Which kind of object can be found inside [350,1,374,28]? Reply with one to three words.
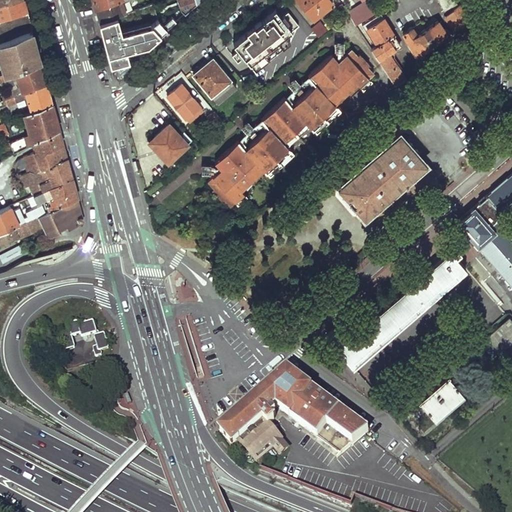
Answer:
shed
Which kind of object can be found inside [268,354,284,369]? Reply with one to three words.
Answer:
vehicle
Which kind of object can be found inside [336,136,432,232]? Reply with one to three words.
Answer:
building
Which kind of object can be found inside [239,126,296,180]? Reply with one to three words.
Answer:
house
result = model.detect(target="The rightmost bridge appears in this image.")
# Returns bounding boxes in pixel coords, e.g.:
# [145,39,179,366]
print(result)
[150,428,234,512]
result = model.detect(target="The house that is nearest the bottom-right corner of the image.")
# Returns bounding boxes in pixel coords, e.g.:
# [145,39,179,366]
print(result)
[420,380,466,436]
